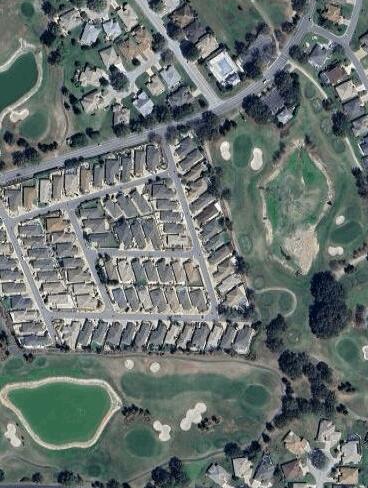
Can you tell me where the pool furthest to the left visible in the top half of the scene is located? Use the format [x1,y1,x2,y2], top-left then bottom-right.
[208,48,237,78]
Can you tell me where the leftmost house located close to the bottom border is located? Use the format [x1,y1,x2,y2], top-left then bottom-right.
[202,461,233,485]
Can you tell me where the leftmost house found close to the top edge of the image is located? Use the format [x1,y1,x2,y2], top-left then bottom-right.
[57,8,82,33]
